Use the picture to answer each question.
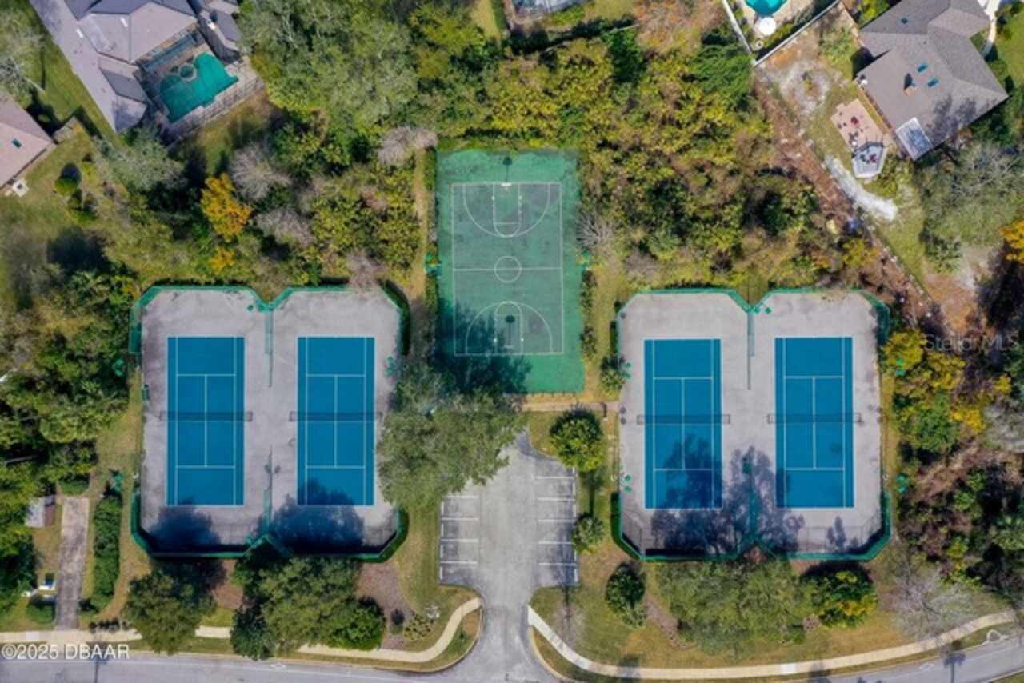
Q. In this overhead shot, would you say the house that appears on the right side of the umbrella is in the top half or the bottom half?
top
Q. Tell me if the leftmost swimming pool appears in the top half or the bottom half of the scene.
top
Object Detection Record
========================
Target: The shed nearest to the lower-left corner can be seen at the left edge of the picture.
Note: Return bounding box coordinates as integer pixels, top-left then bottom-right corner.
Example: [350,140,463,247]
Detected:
[25,493,66,528]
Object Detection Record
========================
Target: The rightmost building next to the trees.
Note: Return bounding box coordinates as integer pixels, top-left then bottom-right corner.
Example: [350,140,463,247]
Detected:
[850,0,1009,162]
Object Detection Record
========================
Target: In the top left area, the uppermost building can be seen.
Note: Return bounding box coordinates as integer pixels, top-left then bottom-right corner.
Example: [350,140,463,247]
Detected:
[30,0,252,132]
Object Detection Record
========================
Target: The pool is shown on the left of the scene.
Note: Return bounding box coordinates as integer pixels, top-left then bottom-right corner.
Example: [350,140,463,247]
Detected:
[159,51,240,123]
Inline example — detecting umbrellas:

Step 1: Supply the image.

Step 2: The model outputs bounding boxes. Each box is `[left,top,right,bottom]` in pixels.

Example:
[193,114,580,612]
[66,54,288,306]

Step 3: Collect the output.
[758,18,774,34]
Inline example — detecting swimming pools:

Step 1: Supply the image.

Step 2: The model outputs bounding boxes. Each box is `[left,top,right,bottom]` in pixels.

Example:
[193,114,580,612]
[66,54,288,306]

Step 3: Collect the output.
[744,0,788,17]
[159,51,240,123]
